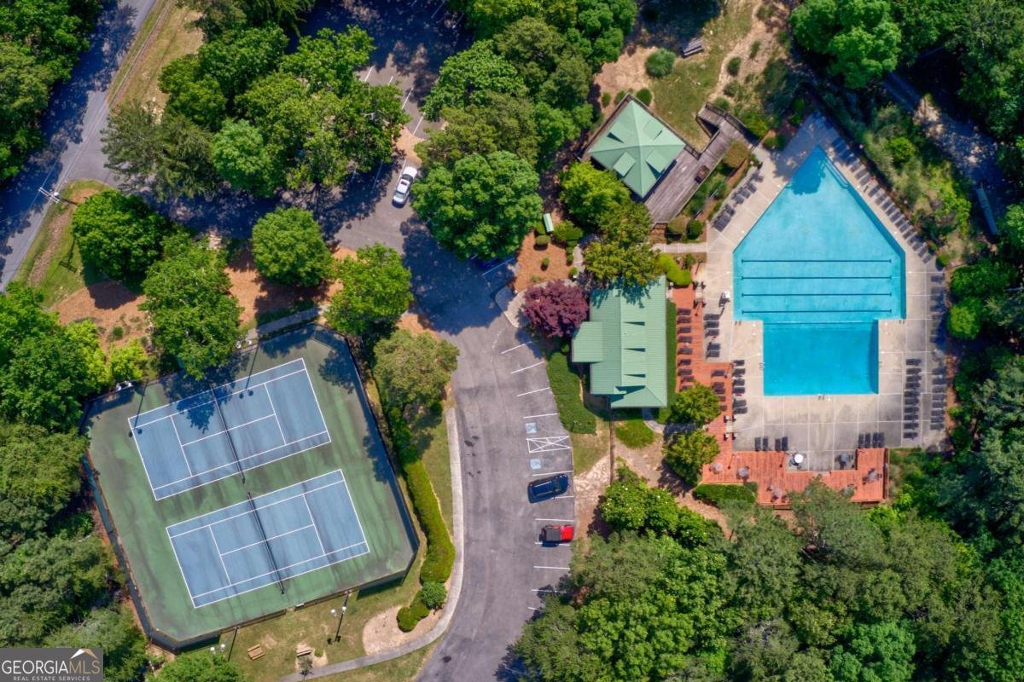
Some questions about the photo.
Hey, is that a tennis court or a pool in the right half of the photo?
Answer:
pool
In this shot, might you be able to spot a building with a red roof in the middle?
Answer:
No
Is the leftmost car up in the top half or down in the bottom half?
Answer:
top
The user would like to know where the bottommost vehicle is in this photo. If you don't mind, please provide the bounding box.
[542,525,576,544]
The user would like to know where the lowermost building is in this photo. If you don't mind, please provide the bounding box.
[572,274,668,409]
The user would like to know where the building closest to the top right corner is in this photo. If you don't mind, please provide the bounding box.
[589,99,686,198]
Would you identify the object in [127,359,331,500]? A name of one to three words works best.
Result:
tennis court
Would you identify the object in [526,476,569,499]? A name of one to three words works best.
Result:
car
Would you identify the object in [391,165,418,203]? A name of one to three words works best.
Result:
car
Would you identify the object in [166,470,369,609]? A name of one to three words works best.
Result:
tennis court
